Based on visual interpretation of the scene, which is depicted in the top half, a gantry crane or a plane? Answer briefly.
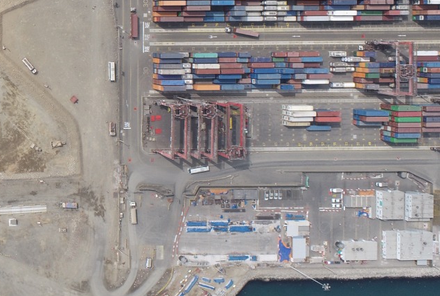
gantry crane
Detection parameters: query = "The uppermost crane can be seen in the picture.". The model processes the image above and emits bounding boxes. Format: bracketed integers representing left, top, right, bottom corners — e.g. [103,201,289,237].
[360,39,416,99]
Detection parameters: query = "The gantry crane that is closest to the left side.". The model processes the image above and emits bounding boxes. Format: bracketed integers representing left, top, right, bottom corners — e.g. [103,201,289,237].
[148,99,191,160]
